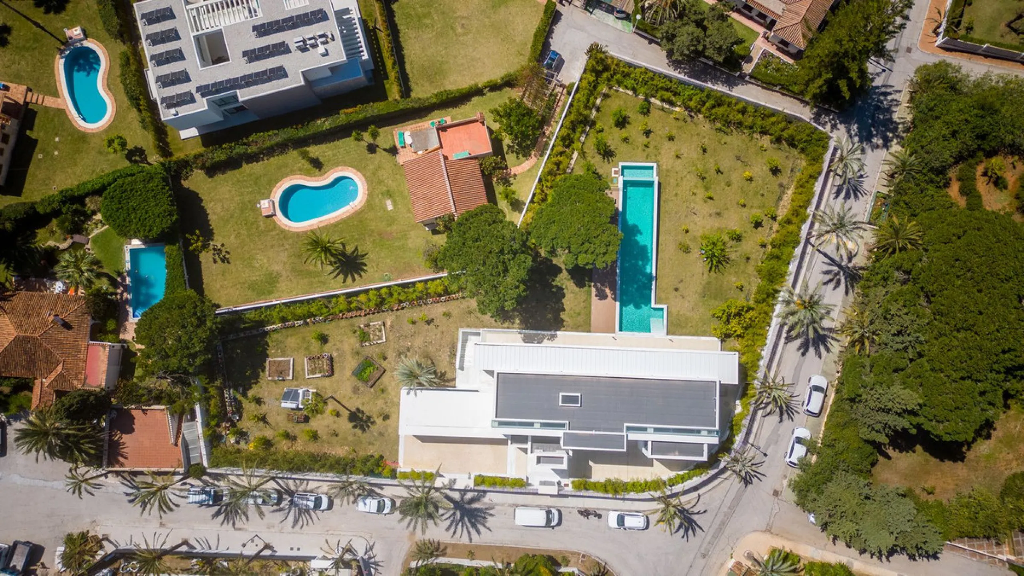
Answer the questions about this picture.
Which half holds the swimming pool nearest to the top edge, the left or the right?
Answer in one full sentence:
The swimming pool nearest to the top edge is on the left side of the image.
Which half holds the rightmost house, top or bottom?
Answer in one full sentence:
The rightmost house sits in the top half of the picture.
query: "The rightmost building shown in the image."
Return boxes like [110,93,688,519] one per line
[711,0,837,75]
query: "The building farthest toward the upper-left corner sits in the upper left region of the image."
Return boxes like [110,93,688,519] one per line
[66,28,87,47]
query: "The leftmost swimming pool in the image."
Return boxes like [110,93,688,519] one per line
[55,37,117,133]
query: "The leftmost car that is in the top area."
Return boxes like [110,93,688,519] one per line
[540,45,562,77]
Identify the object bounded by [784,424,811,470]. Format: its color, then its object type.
white car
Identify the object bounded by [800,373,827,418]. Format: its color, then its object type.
white car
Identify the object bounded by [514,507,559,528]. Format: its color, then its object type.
white vehicle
